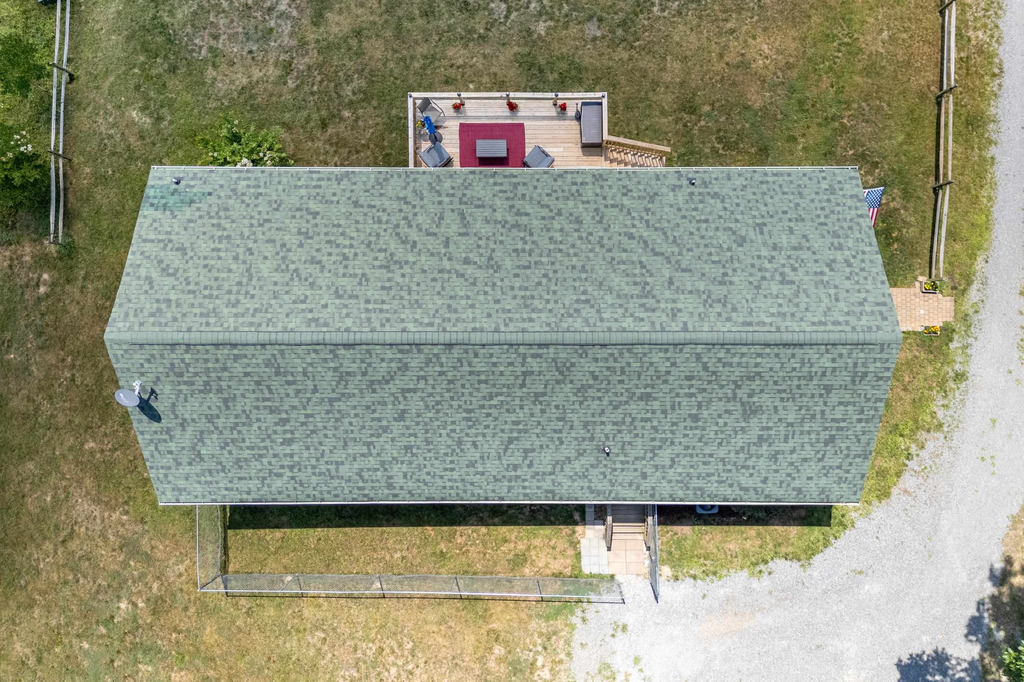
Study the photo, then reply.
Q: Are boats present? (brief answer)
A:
No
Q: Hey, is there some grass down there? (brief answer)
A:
Yes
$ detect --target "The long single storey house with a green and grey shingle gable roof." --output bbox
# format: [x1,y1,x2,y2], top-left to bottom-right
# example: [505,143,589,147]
[104,165,903,506]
